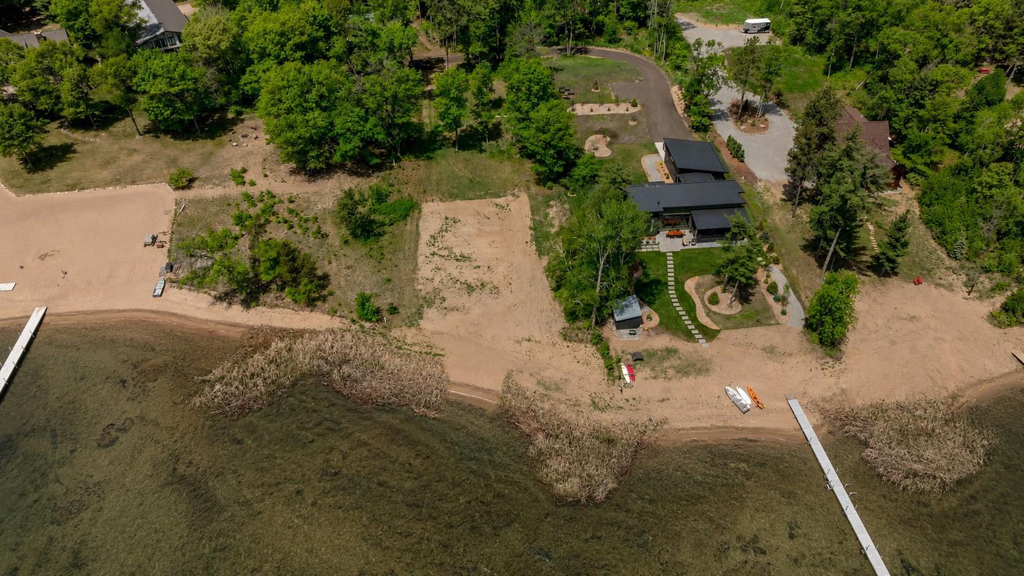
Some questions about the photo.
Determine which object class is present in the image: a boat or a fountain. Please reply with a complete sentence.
The one in the frame is a boat.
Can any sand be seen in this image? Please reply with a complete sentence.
Yes, there's sand in this view.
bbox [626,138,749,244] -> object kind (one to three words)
house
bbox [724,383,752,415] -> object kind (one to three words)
boat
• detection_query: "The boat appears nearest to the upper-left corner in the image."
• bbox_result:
[151,274,164,296]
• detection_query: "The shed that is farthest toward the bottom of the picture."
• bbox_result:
[611,294,646,331]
